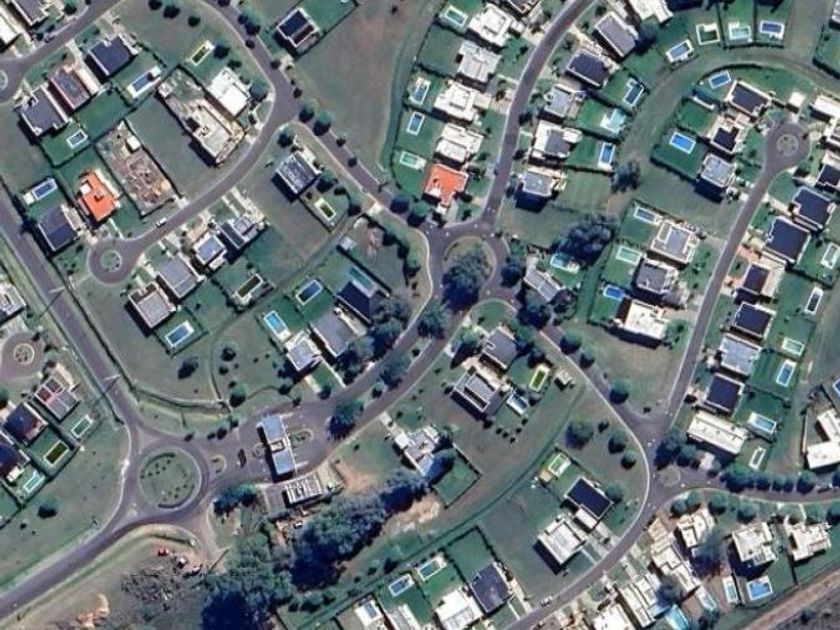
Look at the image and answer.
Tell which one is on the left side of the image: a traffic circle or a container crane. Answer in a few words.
traffic circle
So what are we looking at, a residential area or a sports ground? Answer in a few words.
residential area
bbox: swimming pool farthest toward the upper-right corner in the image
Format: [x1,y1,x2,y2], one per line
[760,21,784,39]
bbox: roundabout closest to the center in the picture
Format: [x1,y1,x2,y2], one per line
[426,220,514,308]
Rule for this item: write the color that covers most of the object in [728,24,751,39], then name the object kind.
white swimming pool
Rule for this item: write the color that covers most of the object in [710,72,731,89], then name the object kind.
blue swimming pool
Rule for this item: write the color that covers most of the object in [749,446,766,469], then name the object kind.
white swimming pool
